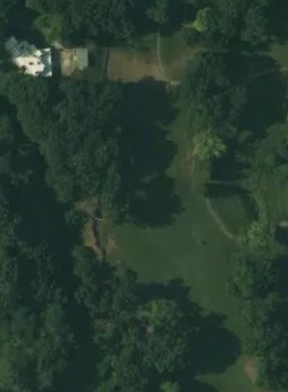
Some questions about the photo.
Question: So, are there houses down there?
Yes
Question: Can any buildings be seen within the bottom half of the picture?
No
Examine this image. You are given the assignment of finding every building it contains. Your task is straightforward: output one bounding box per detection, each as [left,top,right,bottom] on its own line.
[11,39,51,77]
[56,40,88,75]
